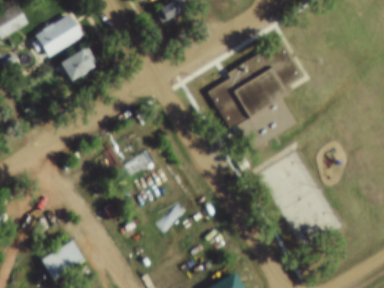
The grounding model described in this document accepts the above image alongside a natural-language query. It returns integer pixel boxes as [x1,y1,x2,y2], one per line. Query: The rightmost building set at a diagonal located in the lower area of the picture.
[156,204,186,234]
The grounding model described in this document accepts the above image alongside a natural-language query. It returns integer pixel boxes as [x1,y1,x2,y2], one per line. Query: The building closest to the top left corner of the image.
[0,6,26,39]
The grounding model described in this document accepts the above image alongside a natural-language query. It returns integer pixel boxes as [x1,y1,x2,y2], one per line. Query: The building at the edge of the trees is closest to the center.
[124,152,154,178]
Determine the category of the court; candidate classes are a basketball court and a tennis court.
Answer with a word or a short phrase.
basketball court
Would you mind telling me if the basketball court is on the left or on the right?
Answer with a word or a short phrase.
right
